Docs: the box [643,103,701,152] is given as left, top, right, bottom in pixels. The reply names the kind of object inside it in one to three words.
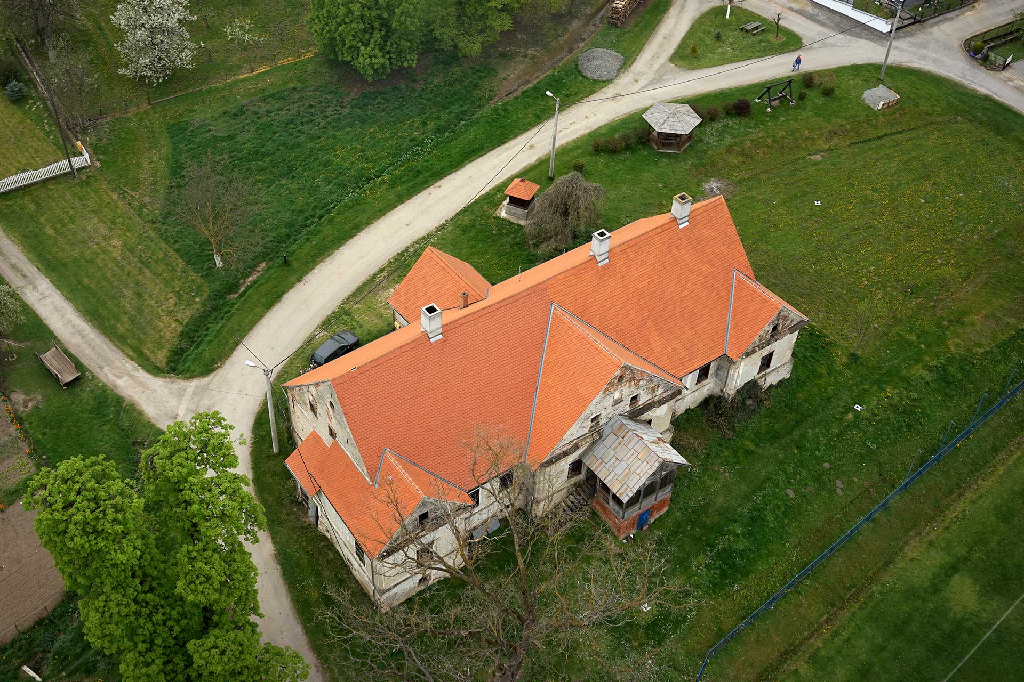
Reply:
gazebo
